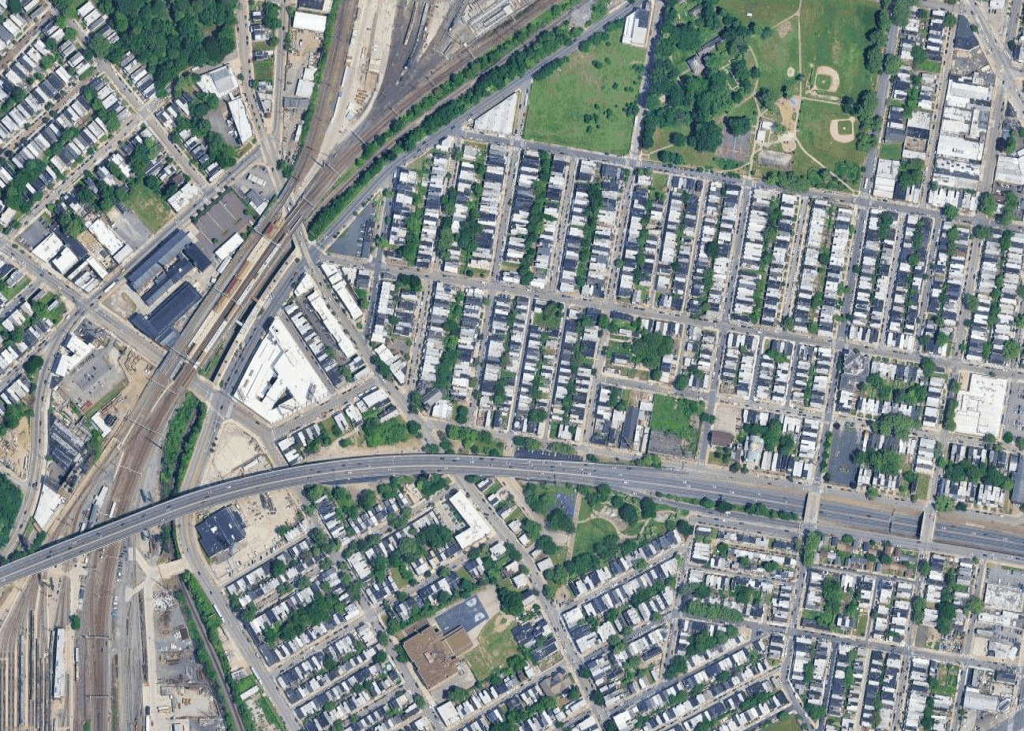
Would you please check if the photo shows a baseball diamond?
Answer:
Yes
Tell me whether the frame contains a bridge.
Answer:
Yes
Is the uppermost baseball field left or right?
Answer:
right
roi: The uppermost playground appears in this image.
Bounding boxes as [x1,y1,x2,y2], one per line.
[776,95,801,133]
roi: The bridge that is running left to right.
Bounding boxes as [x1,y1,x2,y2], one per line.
[0,455,520,584]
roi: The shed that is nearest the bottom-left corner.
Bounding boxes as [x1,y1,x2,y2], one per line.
[53,629,65,698]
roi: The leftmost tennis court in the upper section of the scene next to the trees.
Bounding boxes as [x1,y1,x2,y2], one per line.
[715,116,751,161]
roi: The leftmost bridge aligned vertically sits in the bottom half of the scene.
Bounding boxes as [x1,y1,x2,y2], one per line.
[803,487,820,528]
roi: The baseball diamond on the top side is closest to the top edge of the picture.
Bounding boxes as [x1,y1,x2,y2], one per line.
[806,66,839,101]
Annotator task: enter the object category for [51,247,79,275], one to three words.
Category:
building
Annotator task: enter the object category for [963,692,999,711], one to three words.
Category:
shed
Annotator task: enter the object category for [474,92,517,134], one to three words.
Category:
building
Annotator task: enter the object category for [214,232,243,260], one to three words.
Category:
shed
